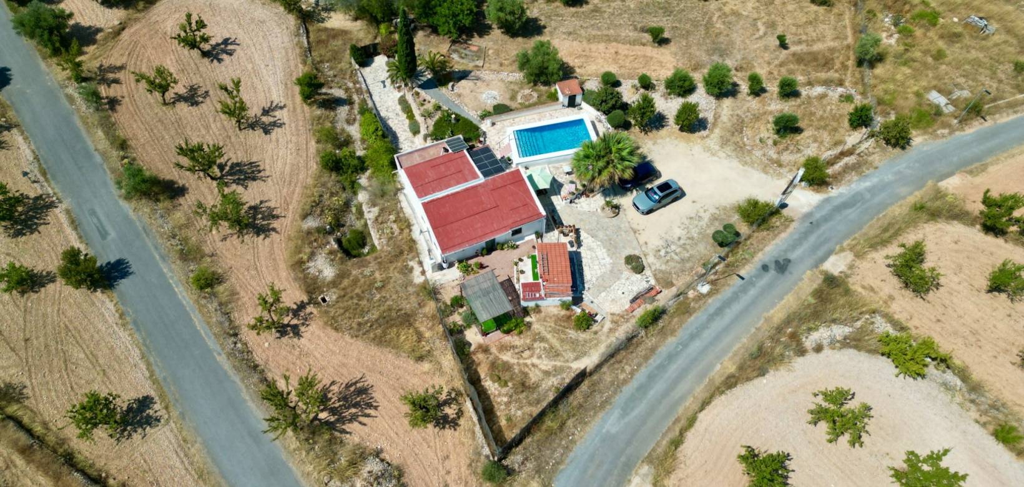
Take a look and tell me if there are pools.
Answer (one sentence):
Yes, there's a pool here.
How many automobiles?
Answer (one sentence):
Looking from above, you can make out 2 automobiles.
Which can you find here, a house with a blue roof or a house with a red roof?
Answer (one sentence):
There is a house with a red roof in the scene.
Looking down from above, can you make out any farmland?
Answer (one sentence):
Yes, farmland can be seen from above here.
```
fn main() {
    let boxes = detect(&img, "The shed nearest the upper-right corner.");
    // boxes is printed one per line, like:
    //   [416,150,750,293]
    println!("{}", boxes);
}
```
[559,71,584,105]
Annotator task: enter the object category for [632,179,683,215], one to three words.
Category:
car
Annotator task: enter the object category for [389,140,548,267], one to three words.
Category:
house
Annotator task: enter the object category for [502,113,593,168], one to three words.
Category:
swimming pool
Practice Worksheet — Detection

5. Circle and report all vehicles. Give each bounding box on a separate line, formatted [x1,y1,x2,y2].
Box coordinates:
[618,159,660,192]
[632,179,683,215]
